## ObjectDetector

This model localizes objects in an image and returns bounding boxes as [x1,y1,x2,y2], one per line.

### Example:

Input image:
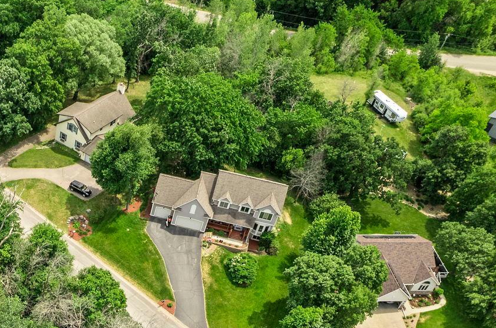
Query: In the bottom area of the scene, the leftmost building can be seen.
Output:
[152,168,289,253]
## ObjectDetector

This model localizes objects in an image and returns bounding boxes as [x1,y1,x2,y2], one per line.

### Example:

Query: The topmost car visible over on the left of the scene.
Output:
[67,180,93,199]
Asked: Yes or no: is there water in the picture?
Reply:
No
